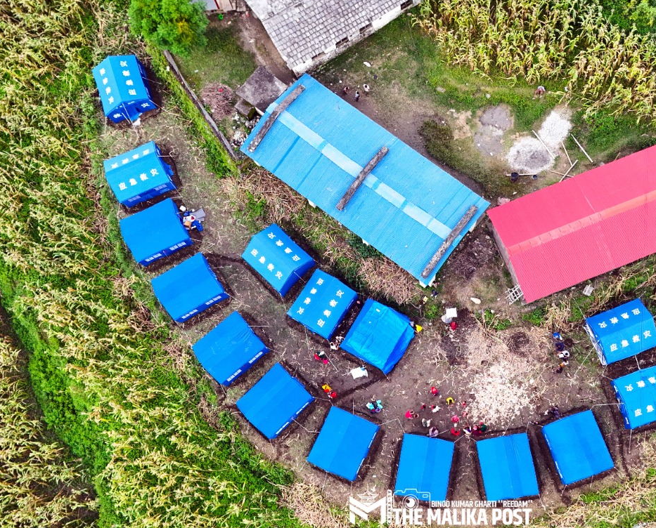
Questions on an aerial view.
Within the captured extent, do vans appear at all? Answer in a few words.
No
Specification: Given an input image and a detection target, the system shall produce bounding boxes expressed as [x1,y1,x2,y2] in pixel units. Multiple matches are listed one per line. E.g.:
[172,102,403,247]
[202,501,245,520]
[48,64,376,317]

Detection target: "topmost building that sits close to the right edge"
[487,146,656,303]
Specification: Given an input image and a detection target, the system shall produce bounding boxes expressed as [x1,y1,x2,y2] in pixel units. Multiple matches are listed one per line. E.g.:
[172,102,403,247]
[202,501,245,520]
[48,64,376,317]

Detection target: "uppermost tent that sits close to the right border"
[574,293,656,369]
